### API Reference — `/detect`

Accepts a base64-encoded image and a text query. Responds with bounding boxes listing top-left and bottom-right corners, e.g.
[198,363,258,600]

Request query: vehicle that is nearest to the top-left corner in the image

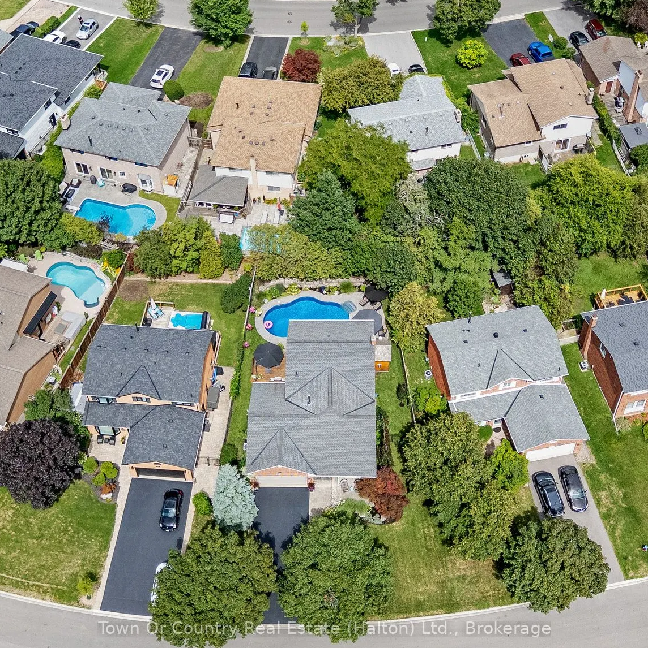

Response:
[8,18,40,35]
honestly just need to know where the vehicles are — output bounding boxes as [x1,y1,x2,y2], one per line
[582,12,607,39]
[566,31,587,55]
[159,490,186,531]
[558,468,587,511]
[509,52,530,64]
[239,59,257,77]
[261,62,279,80]
[386,61,405,81]
[64,38,87,50]
[408,64,425,77]
[526,39,561,58]
[8,18,40,35]
[148,65,178,87]
[76,17,101,39]
[530,474,566,515]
